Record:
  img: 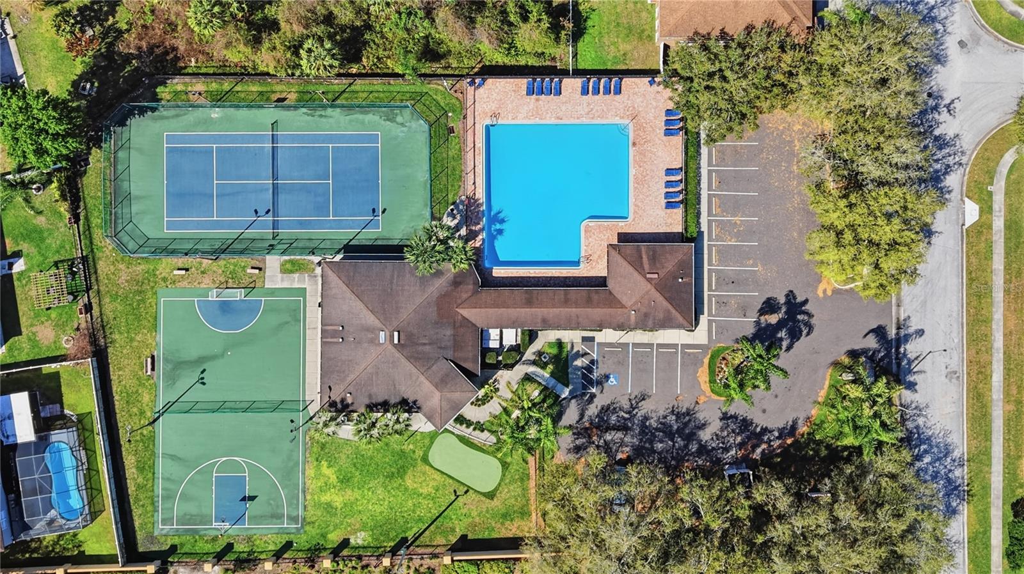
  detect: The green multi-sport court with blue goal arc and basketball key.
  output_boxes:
[154,288,306,534]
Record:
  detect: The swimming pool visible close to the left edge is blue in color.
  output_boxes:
[42,439,85,522]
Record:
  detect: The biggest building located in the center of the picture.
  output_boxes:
[317,243,695,431]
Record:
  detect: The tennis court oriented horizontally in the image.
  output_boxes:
[113,107,433,256]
